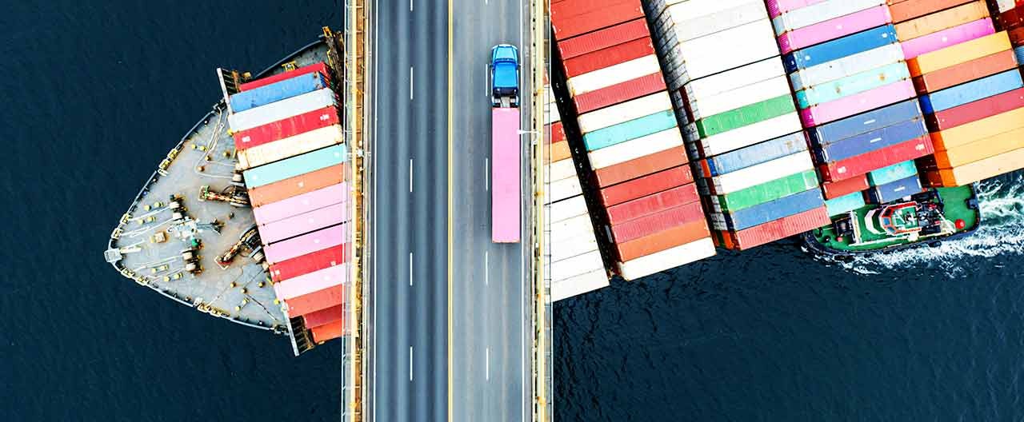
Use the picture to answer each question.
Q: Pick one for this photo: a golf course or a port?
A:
port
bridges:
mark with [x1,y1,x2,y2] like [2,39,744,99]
[341,0,555,422]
